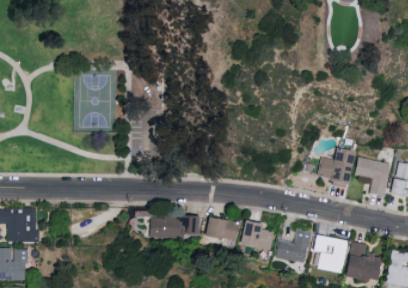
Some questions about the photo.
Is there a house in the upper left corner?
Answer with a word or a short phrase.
No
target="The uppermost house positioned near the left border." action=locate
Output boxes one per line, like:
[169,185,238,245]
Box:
[0,208,38,243]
